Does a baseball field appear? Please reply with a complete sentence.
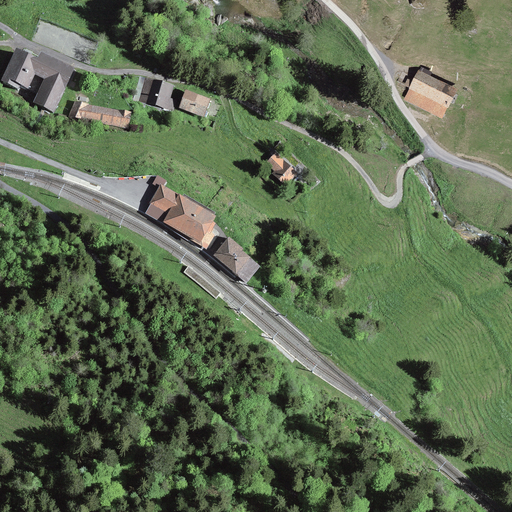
No, there isn't any baseball field down there.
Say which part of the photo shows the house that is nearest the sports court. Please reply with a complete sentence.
You can find the house that is nearest the sports court in the top left area of the picture.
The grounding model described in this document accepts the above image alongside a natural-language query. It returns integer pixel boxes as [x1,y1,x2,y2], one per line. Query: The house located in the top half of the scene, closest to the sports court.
[3,48,74,114]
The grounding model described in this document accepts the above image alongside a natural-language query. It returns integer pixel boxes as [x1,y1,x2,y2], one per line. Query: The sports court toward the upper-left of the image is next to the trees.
[32,20,96,64]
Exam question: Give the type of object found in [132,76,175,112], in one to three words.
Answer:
house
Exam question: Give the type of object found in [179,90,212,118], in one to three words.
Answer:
house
